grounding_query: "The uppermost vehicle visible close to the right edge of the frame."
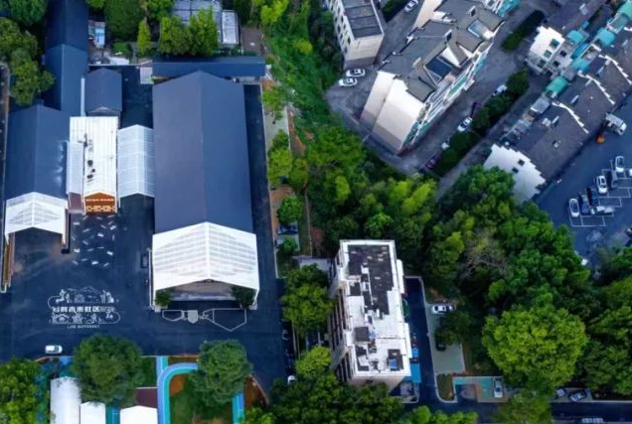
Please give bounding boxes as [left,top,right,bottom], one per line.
[605,109,628,131]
